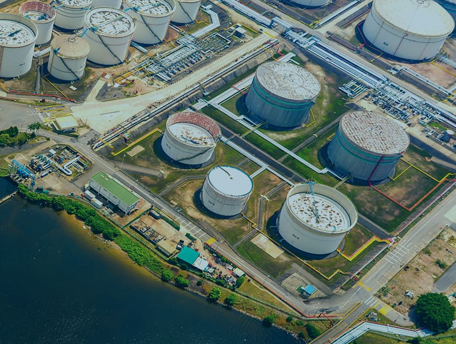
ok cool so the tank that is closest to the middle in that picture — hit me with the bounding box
[196,163,254,219]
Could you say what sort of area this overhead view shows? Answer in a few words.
industrial area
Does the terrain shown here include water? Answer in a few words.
Yes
